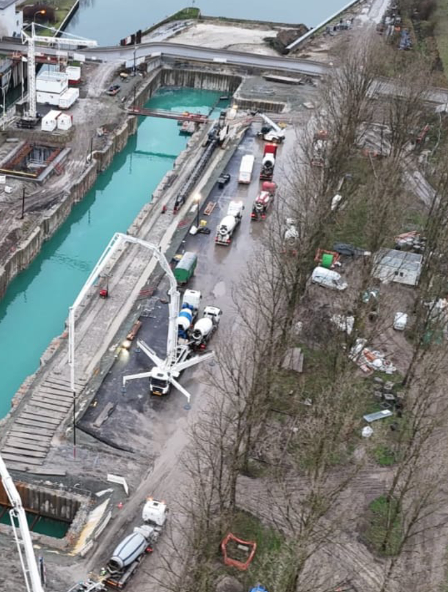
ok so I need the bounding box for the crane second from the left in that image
[173,114,234,213]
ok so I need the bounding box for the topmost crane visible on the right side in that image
[256,111,286,142]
